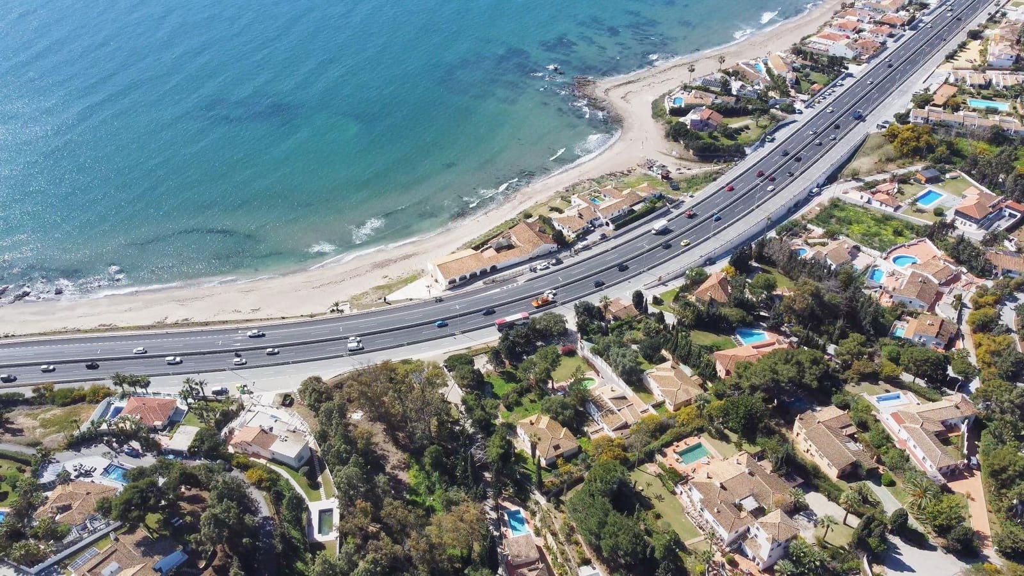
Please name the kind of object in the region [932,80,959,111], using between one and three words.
building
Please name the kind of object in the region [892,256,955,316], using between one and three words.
house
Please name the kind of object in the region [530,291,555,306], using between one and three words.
vehicle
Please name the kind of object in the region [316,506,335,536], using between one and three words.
swimming pool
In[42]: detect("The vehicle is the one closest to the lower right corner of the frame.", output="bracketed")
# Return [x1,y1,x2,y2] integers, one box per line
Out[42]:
[965,453,983,468]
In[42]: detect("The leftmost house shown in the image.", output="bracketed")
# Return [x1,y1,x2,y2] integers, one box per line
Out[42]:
[33,481,118,534]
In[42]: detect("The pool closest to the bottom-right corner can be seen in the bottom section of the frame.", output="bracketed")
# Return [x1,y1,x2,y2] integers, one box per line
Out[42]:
[872,389,905,405]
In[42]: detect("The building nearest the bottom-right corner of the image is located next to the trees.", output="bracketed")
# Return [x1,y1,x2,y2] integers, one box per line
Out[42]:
[895,394,978,479]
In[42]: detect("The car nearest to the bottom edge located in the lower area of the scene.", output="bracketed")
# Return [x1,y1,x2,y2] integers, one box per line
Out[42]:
[794,508,815,523]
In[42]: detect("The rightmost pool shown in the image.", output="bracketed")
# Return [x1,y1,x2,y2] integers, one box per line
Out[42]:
[967,98,1011,110]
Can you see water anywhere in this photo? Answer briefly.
Yes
